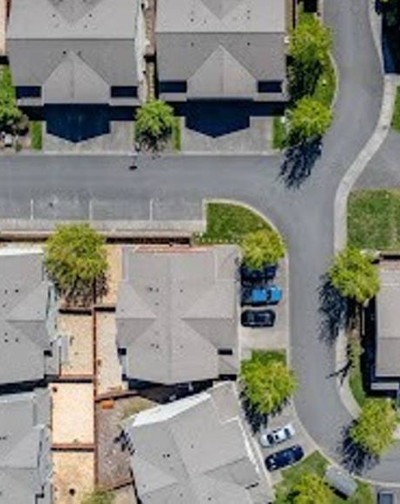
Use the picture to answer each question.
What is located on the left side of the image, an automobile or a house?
house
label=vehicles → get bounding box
[239,309,275,327]
[376,487,393,504]
[241,264,277,282]
[242,288,282,304]
[259,421,297,447]
[266,444,306,470]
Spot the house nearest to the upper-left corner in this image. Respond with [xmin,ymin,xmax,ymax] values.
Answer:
[7,0,147,106]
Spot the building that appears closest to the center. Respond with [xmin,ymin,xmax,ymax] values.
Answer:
[118,243,239,382]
